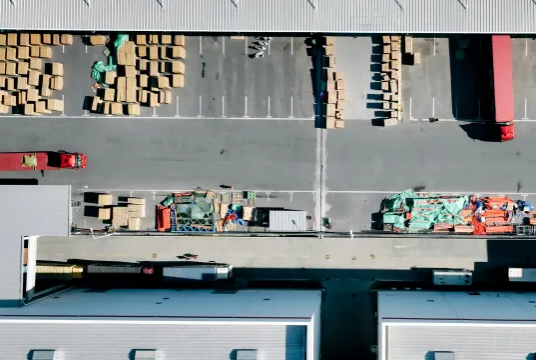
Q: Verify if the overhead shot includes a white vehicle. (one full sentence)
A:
Yes, you can see a white vehicle in this photo.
